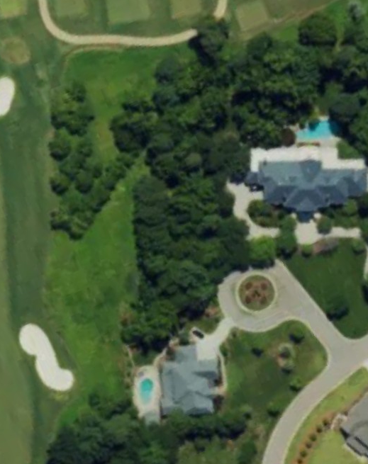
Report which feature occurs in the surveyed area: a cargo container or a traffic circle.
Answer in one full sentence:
There is a traffic circle in the scene.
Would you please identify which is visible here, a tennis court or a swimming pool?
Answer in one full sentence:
Looking from above, you can make out a swimming pool.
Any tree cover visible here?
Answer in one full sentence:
Yes, the picture does contain tree cover.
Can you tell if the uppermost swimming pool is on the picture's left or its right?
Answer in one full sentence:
The uppermost swimming pool sits on the right side.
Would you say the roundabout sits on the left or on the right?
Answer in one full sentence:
It is on the right.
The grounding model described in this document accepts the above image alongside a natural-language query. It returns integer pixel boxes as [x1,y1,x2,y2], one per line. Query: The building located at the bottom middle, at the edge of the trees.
[152,344,219,421]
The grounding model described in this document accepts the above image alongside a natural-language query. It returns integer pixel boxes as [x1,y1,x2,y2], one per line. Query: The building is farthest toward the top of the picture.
[245,158,367,223]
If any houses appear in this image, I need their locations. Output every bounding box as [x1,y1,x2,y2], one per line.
[152,344,219,421]
[245,158,367,223]
[339,390,368,456]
